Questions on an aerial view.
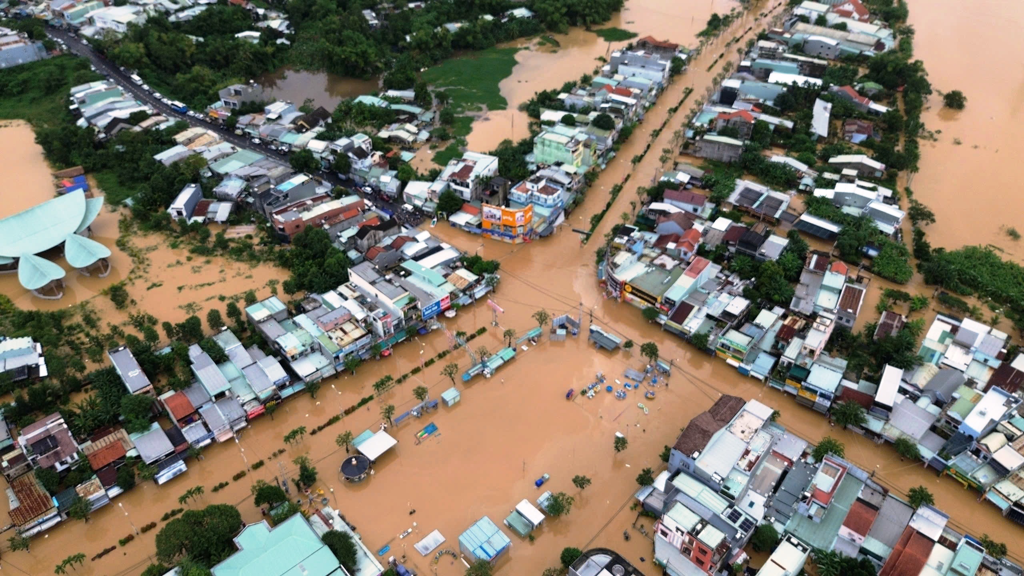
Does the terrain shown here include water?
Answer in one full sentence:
Yes, the picture does contain water.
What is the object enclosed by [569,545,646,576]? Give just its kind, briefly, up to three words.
building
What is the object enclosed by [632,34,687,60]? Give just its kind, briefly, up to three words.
house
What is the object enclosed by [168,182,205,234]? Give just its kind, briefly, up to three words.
house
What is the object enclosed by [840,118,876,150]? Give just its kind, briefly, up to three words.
shed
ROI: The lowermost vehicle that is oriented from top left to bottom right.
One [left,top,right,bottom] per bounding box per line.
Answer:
[390,551,415,576]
